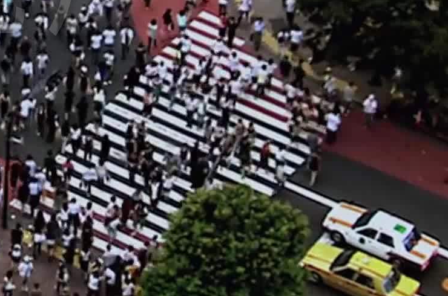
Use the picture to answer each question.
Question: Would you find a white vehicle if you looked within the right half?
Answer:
Yes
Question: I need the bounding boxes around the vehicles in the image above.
[315,200,447,272]
[293,238,425,296]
